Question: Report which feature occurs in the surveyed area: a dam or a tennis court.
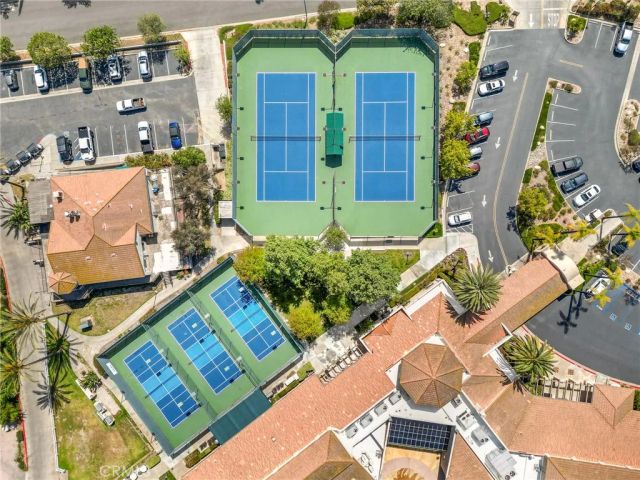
tennis court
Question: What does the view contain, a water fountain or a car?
car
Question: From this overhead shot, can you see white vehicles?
Yes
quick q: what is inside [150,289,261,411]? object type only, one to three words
sports court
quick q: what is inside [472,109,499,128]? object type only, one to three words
car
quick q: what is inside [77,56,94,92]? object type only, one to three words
vehicle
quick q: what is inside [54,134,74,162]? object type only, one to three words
car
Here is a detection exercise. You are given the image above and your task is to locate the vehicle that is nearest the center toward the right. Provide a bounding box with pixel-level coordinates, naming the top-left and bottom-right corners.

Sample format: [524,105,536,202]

[446,211,473,224]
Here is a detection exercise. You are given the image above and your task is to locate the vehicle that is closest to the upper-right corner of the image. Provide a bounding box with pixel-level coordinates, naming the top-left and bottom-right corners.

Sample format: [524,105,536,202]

[612,20,639,56]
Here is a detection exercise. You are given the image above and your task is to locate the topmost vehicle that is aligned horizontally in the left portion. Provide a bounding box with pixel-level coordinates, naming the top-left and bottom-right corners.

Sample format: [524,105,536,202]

[114,96,148,112]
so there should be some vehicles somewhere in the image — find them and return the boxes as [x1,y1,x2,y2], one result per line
[14,150,33,163]
[114,96,148,112]
[608,238,633,258]
[138,121,154,153]
[101,412,118,429]
[136,51,151,79]
[54,134,74,162]
[477,59,512,80]
[457,160,483,178]
[32,66,51,94]
[446,211,473,224]
[26,143,44,156]
[2,159,22,171]
[3,68,21,94]
[464,144,485,160]
[472,109,499,128]
[572,184,603,206]
[106,53,123,83]
[92,401,109,418]
[476,78,507,96]
[612,20,639,56]
[582,272,614,298]
[169,121,182,148]
[77,126,96,162]
[581,206,608,226]
[77,56,94,92]
[464,126,493,144]
[559,172,590,192]
[549,157,584,174]
[0,168,11,178]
